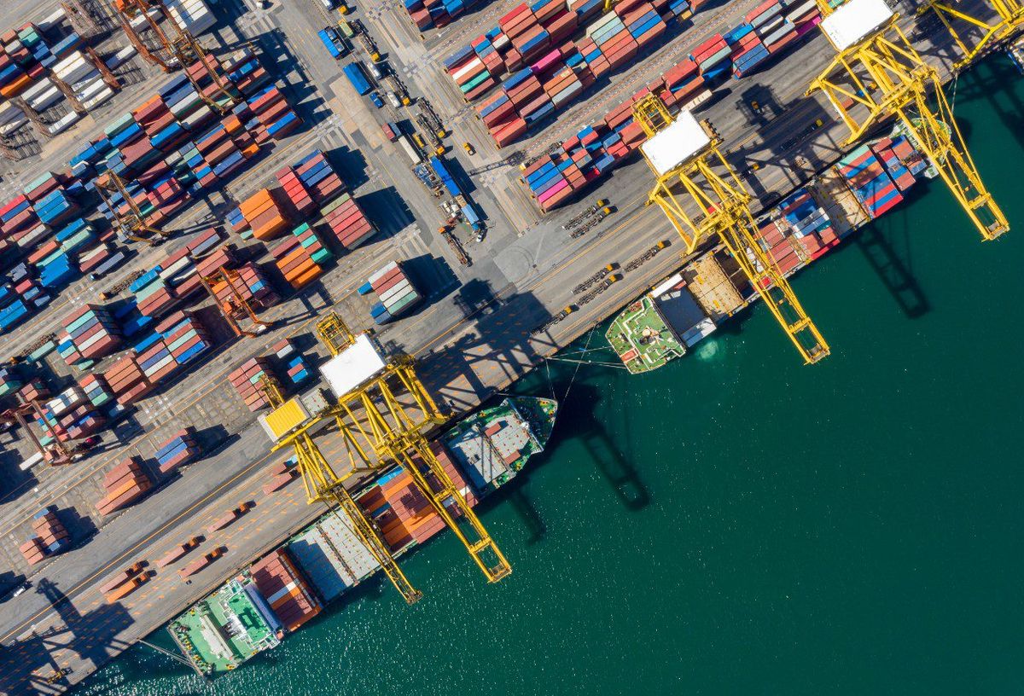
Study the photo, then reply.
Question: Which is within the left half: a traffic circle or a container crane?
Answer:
container crane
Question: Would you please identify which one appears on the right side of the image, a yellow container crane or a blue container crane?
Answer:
yellow container crane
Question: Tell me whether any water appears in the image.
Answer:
Yes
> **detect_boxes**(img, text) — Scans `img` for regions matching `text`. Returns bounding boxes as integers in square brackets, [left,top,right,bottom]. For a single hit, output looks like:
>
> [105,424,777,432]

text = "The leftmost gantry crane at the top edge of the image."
[111,0,197,87]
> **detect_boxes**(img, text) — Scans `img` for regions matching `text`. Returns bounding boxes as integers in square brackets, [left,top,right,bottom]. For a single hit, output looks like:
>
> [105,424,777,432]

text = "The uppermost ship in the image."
[999,38,1024,100]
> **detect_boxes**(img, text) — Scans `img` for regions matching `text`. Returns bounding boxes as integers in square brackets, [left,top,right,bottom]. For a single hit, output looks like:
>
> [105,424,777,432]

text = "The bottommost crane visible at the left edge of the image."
[11,396,101,467]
